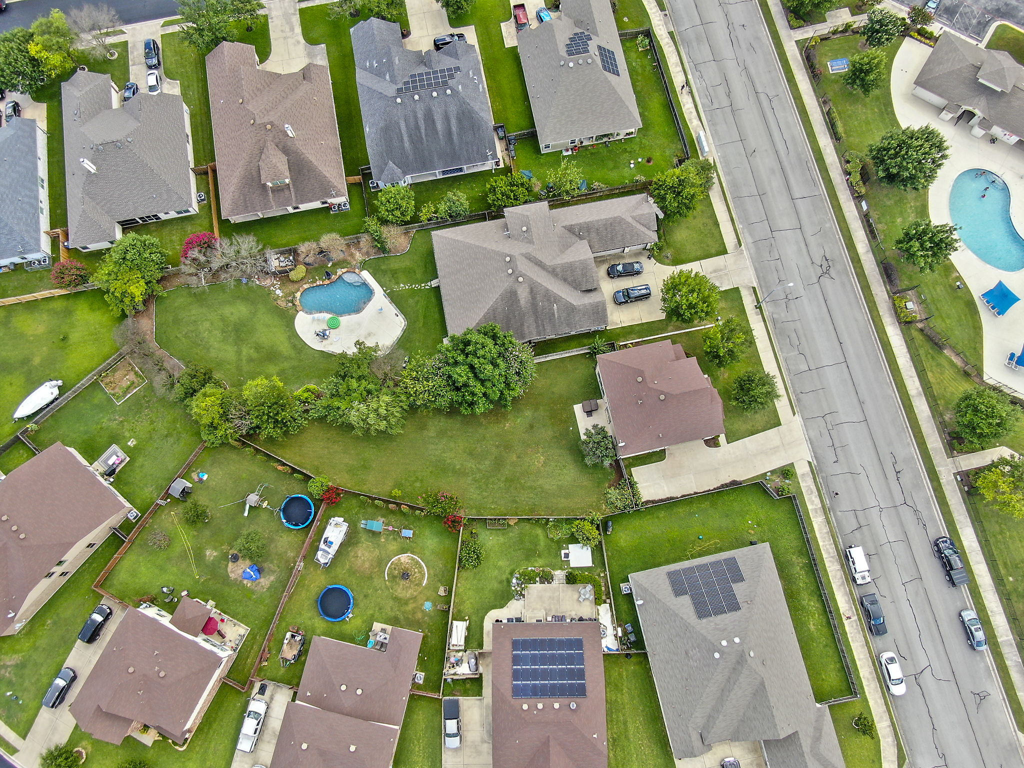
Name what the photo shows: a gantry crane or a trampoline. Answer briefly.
trampoline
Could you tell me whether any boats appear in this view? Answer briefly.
Yes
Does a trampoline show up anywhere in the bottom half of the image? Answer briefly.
Yes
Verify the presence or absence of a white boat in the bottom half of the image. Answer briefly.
Yes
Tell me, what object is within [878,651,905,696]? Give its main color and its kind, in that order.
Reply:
white car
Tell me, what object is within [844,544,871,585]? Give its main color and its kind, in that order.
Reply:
white car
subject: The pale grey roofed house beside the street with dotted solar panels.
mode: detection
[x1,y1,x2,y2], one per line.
[628,542,846,768]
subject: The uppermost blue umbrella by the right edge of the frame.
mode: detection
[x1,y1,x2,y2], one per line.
[980,278,1023,319]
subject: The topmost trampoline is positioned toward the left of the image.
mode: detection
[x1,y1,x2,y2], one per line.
[281,494,315,528]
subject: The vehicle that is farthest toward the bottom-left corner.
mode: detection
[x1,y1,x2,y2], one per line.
[38,665,78,711]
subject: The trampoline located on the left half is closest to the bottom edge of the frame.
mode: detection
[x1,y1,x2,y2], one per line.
[318,584,354,621]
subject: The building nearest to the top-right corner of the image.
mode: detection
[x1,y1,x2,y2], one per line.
[908,30,1024,151]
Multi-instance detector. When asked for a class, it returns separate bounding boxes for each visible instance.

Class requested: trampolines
[318,584,354,621]
[281,494,315,528]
